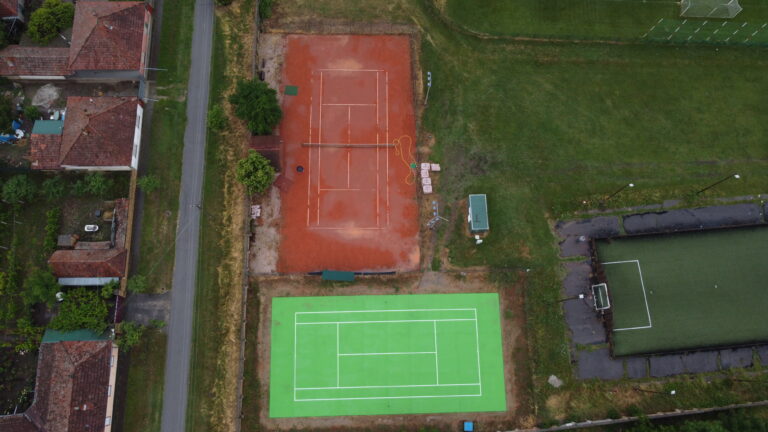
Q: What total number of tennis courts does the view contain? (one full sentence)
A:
In total, there are 2 tennis courts in the scene.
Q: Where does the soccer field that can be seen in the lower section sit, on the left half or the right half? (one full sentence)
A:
You can find the soccer field that can be seen in the lower section on the right side of the picture.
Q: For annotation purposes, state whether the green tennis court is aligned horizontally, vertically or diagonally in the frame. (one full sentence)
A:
What the image shows is the green tennis court lying horizontally.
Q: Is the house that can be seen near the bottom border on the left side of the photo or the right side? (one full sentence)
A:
The house that can be seen near the bottom border sits on the left side.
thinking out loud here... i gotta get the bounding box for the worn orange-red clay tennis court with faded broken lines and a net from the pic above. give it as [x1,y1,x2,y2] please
[277,33,418,274]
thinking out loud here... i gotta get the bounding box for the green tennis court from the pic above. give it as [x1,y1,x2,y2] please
[269,292,506,418]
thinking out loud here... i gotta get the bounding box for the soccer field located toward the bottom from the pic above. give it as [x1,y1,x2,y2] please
[591,224,768,356]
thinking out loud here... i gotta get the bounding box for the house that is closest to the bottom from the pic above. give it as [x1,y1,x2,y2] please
[0,328,118,432]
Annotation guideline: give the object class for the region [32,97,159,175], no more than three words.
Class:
house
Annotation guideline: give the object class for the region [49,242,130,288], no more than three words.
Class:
house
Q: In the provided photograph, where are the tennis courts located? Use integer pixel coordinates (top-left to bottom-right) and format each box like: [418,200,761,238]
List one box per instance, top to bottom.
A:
[277,33,418,274]
[269,292,506,418]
